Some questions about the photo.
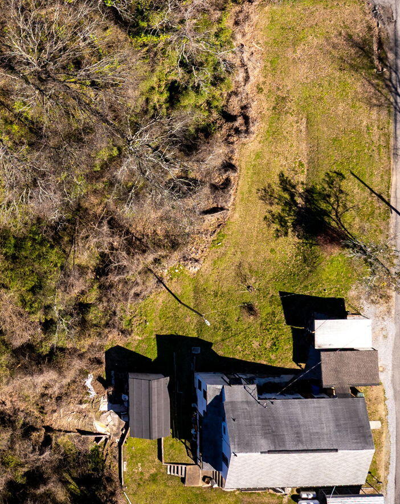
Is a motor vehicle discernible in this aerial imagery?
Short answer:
No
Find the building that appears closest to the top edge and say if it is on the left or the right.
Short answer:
right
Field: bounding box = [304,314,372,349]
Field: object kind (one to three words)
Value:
building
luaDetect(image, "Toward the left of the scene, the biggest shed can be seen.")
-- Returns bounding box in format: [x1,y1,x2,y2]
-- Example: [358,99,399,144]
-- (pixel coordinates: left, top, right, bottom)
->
[126,371,171,439]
